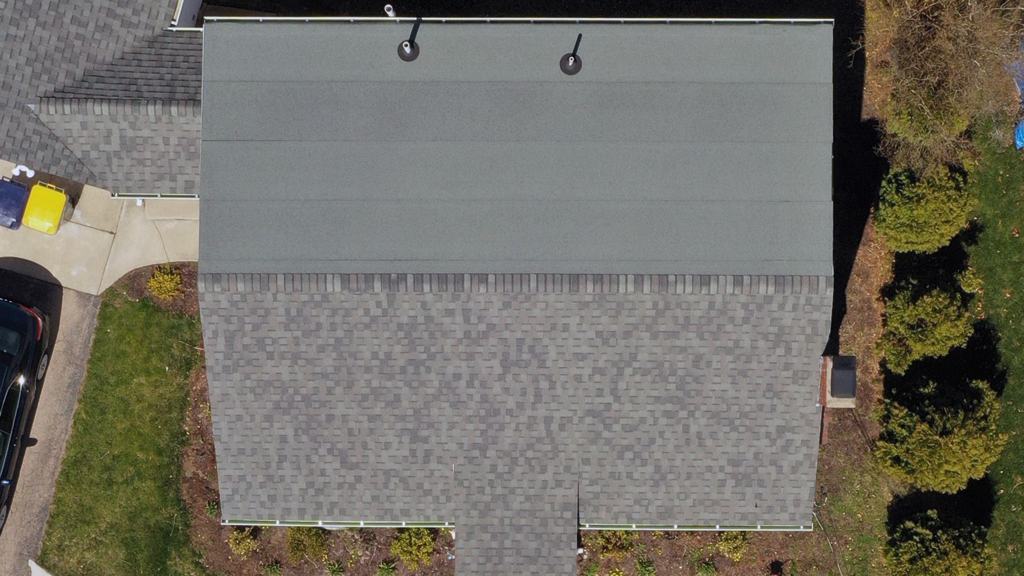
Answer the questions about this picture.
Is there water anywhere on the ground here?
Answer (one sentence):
No, there is no water in the image.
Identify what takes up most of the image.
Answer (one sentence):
The bulk of the photo consists of buildings.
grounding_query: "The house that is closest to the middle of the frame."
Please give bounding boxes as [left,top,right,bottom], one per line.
[198,4,857,576]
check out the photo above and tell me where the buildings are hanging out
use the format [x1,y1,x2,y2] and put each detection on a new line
[0,0,209,191]
[198,4,857,576]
